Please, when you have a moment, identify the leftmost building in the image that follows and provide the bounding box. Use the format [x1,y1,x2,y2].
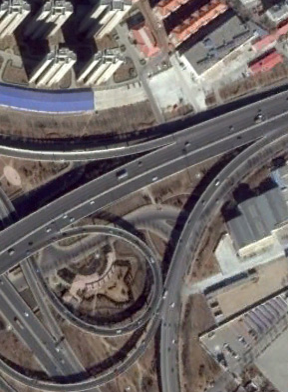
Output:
[0,0,30,40]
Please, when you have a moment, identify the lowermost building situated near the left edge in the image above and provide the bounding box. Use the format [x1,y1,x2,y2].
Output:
[0,84,94,114]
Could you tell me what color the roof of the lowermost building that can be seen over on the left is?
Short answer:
blue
